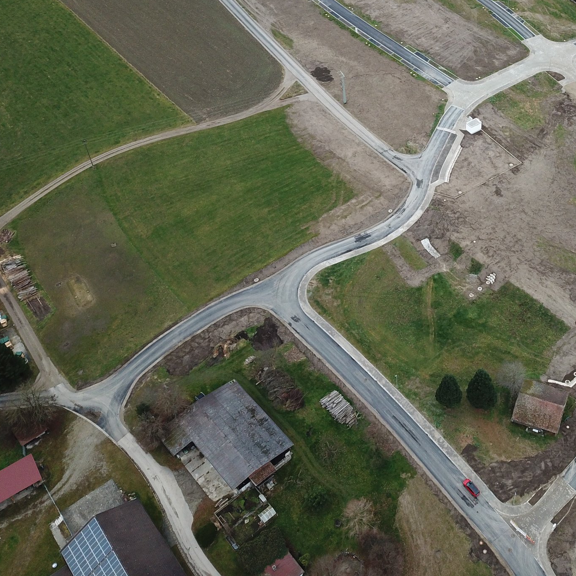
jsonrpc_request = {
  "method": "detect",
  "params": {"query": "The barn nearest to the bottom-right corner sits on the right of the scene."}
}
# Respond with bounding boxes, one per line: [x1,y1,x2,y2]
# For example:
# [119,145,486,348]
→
[512,381,568,438]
